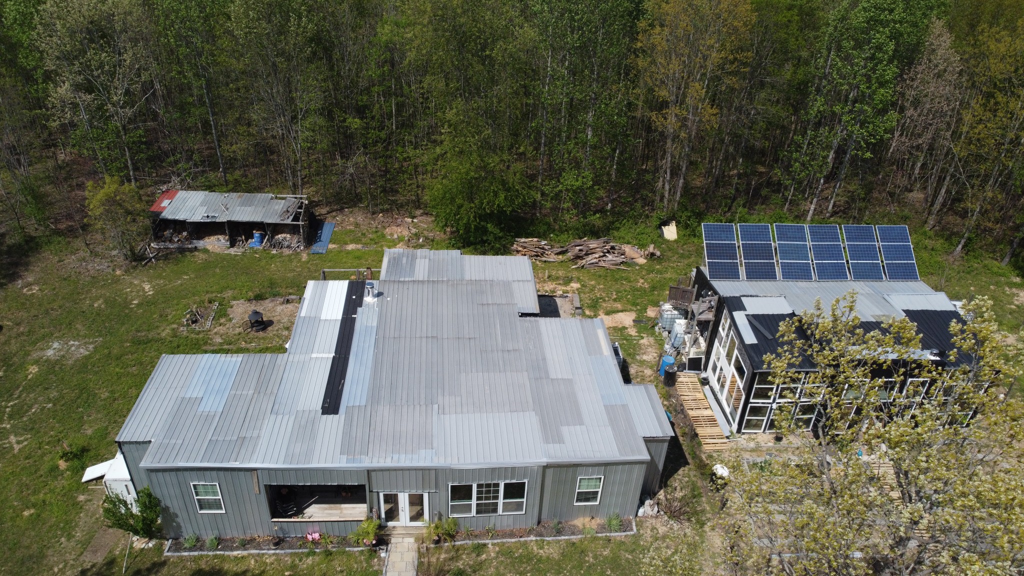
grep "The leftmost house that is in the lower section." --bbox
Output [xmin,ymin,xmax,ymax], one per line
[113,248,677,539]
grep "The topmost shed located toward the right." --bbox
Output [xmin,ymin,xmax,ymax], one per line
[663,215,680,241]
